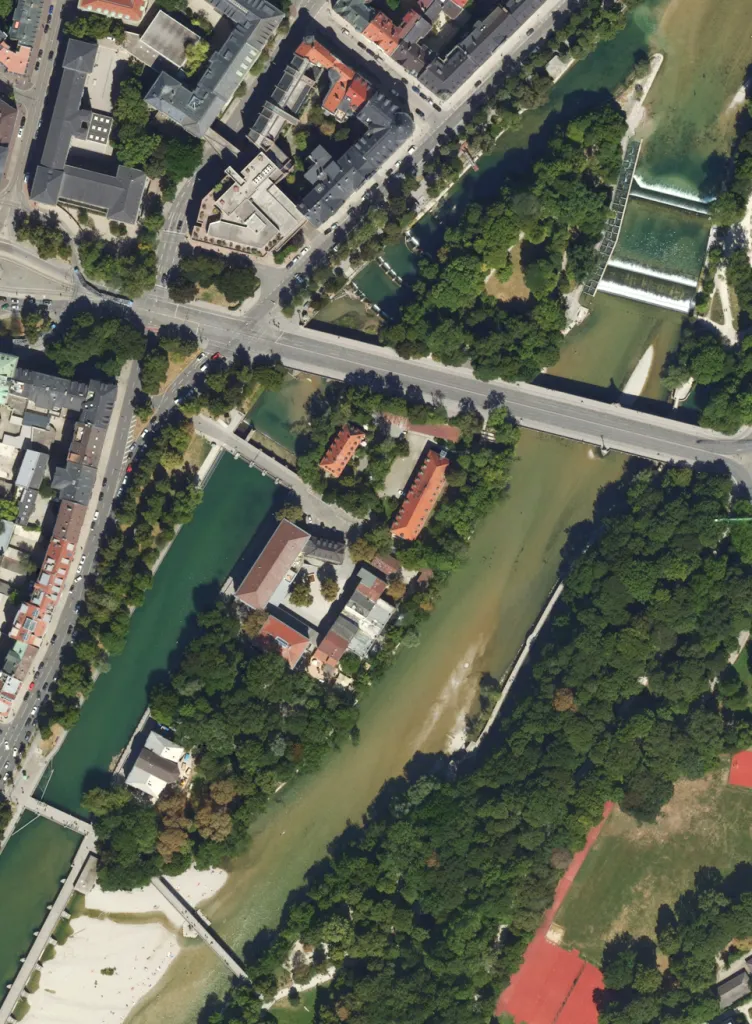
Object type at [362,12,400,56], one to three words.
house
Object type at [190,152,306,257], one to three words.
building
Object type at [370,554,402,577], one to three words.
shed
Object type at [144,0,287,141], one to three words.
building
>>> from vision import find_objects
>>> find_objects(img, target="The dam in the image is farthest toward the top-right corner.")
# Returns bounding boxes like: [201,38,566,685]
[630,177,712,215]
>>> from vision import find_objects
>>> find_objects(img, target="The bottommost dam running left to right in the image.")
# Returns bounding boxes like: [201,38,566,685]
[595,263,695,319]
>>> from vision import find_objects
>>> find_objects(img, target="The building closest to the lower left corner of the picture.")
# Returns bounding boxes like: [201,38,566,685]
[73,852,98,894]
